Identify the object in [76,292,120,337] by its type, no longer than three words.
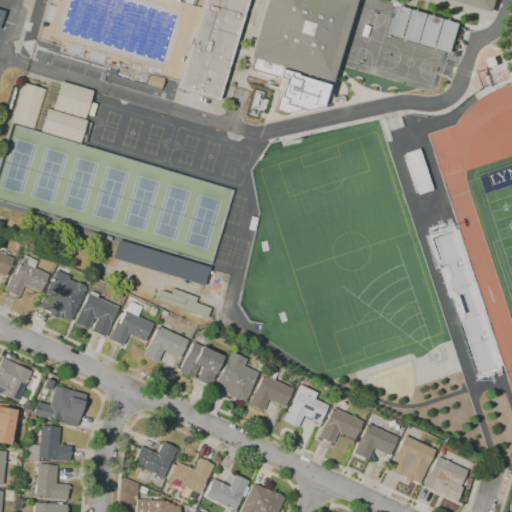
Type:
house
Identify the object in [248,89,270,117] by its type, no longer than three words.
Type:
building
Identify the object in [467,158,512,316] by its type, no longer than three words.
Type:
sports field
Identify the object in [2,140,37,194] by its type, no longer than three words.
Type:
tennis court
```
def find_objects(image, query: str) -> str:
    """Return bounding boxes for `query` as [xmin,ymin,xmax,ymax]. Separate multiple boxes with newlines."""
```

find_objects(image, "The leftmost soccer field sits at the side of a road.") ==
[242,120,450,382]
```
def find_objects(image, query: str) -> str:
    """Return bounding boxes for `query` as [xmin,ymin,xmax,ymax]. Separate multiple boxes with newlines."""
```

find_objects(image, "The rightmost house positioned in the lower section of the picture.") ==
[424,458,470,502]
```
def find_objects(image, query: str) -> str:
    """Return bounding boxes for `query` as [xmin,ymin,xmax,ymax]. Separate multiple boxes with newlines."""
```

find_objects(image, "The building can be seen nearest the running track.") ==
[404,148,436,194]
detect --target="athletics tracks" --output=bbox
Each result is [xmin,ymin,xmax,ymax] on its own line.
[428,84,512,384]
